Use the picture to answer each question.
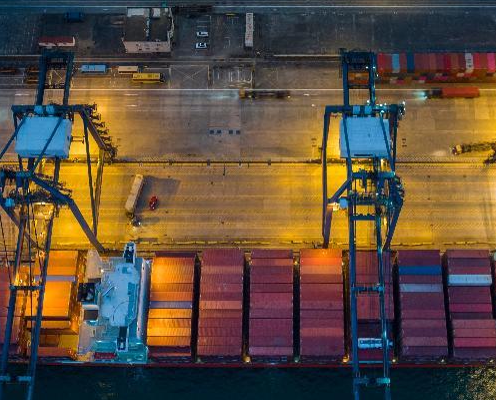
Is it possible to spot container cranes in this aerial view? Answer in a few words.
Yes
